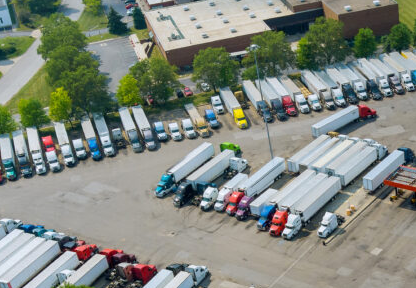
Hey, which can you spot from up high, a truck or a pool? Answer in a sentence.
I can see a truck in this picture.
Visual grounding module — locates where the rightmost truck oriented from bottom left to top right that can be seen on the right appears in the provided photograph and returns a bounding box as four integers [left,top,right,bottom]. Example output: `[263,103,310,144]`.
[365,148,411,194]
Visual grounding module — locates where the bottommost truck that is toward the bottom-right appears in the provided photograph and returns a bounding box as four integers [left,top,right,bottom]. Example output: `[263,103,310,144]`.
[318,210,344,239]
